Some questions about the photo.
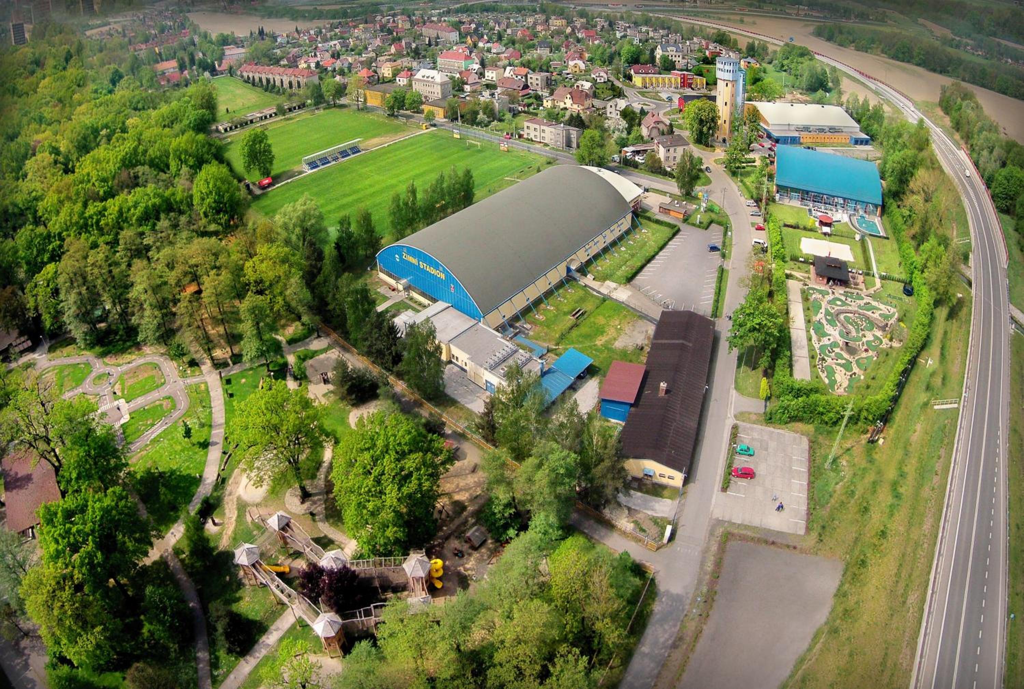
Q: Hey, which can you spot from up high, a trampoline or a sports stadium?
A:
sports stadium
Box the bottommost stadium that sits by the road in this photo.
[367,160,646,328]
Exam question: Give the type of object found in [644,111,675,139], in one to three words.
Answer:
house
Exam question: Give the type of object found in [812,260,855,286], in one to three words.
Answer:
building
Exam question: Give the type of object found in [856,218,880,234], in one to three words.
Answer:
swimming pool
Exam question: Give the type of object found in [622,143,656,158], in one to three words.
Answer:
shed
